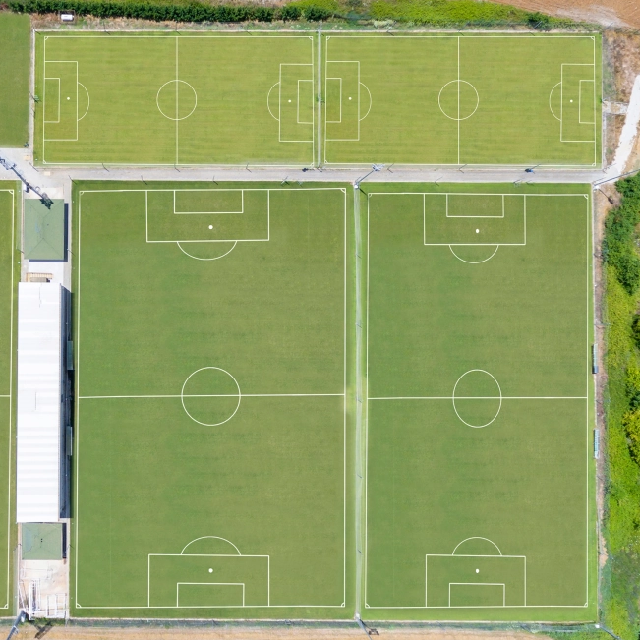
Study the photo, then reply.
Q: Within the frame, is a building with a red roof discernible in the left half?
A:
No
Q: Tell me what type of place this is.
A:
sports ground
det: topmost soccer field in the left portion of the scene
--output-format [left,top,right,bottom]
[36,32,318,166]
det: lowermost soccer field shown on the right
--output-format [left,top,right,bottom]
[358,183,599,622]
